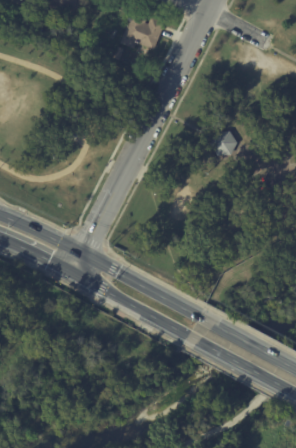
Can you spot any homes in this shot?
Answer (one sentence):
Yes, looking at the shot, I can spot a home.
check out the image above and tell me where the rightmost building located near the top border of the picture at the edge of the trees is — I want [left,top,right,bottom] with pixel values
[126,20,163,52]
